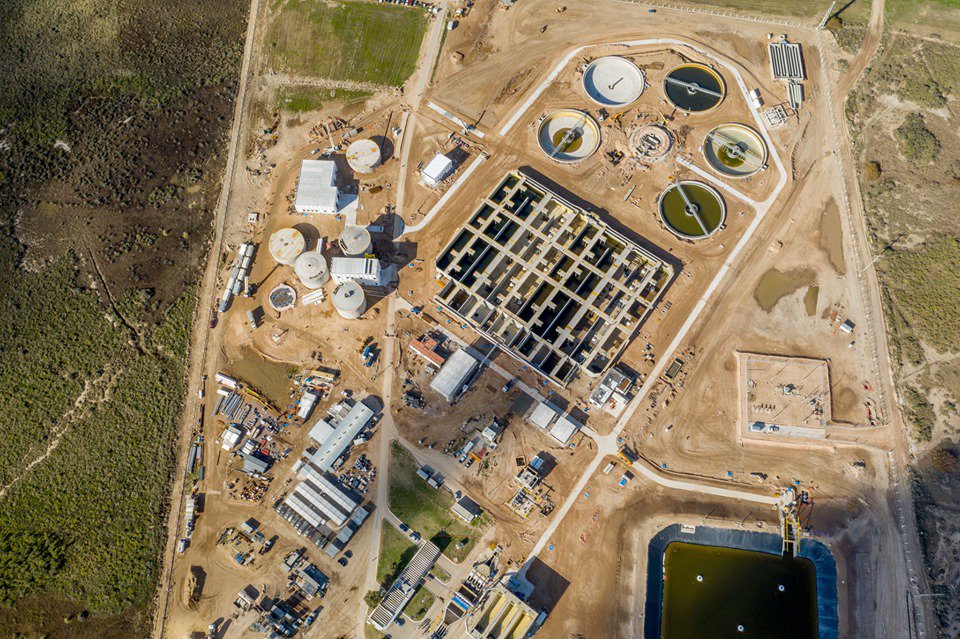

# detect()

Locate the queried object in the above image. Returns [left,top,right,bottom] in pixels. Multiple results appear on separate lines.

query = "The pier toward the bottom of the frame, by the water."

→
[780,498,802,557]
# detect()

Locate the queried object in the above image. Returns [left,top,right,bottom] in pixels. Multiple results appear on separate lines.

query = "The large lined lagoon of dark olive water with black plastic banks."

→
[644,524,841,639]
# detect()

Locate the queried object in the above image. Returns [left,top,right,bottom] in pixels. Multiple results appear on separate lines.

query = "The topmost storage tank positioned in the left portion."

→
[346,141,382,176]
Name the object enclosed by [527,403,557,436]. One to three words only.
building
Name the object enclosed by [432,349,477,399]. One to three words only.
shed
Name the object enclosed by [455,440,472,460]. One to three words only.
vehicle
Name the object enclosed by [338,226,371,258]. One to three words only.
storage tank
